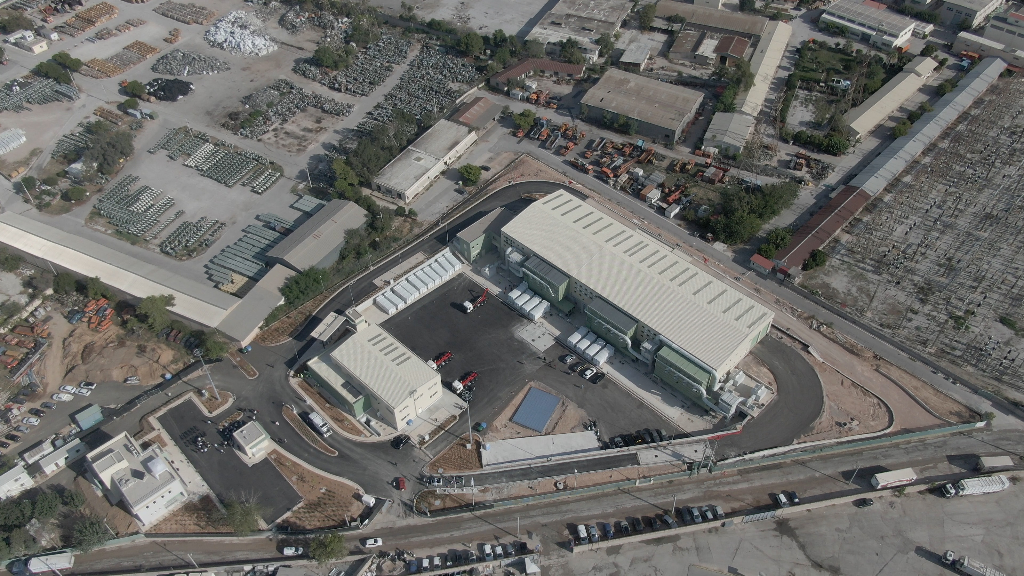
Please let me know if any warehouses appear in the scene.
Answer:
Yes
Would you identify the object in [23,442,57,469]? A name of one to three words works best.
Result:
building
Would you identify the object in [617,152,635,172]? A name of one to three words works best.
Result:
vehicle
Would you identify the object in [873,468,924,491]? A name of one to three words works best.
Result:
trailer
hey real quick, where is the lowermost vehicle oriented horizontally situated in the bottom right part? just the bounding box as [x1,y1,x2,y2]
[943,552,1016,576]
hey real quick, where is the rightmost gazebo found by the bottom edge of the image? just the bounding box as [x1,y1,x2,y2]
[522,554,543,576]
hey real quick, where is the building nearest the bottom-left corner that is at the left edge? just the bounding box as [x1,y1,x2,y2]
[0,465,39,506]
